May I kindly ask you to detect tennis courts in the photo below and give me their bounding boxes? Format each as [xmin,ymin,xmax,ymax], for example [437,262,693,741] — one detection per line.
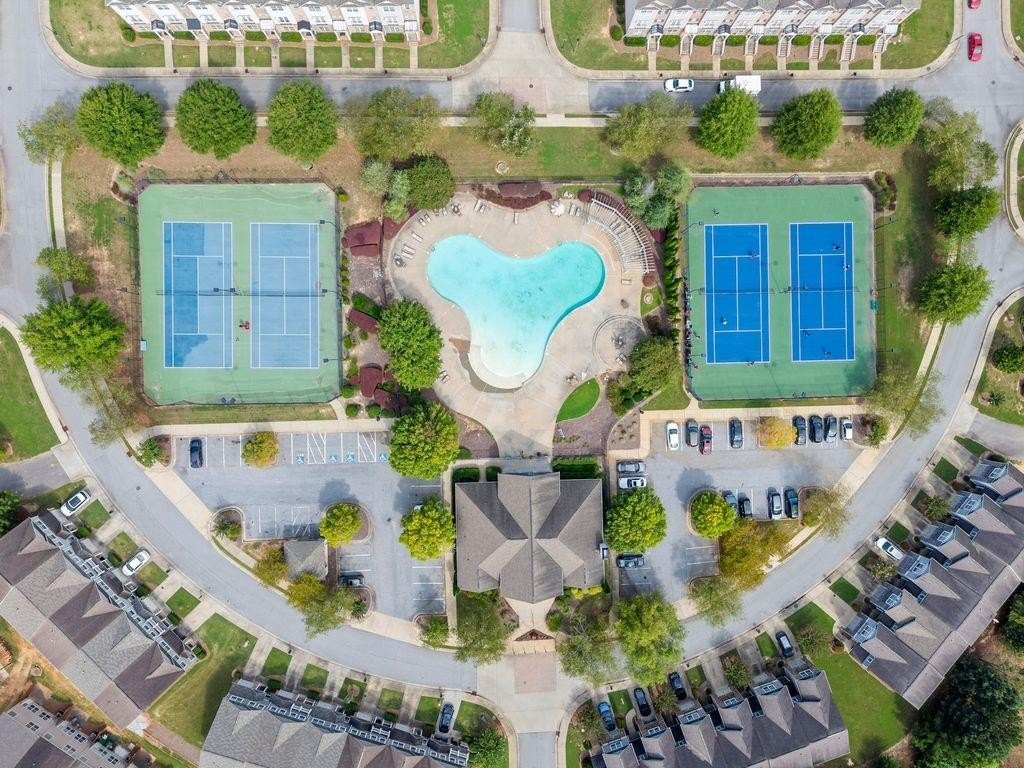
[780,184,877,402]
[242,183,341,404]
[686,185,781,403]
[138,183,242,405]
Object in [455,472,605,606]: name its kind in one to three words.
building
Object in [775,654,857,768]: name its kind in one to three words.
house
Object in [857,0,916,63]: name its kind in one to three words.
house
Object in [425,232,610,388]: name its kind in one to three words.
swimming pool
